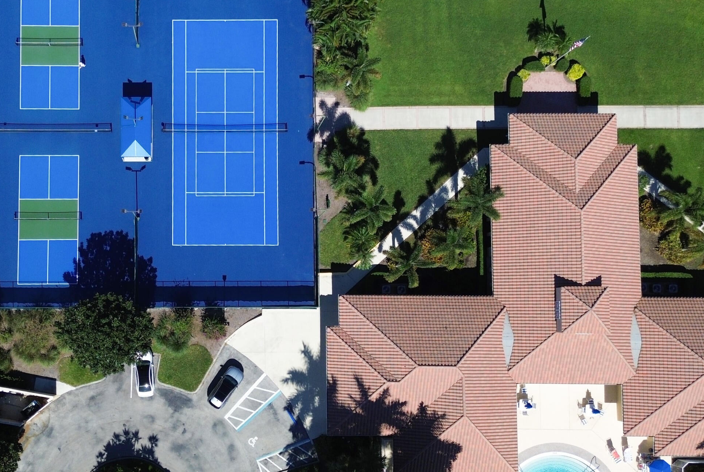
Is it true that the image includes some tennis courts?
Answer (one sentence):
Yes, looking at the shot, I can spot a tennis court.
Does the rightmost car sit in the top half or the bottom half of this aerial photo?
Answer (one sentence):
The rightmost car sits in the bottom half of the picture.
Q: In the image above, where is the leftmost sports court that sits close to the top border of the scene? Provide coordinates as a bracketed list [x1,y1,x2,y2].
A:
[20,0,79,109]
